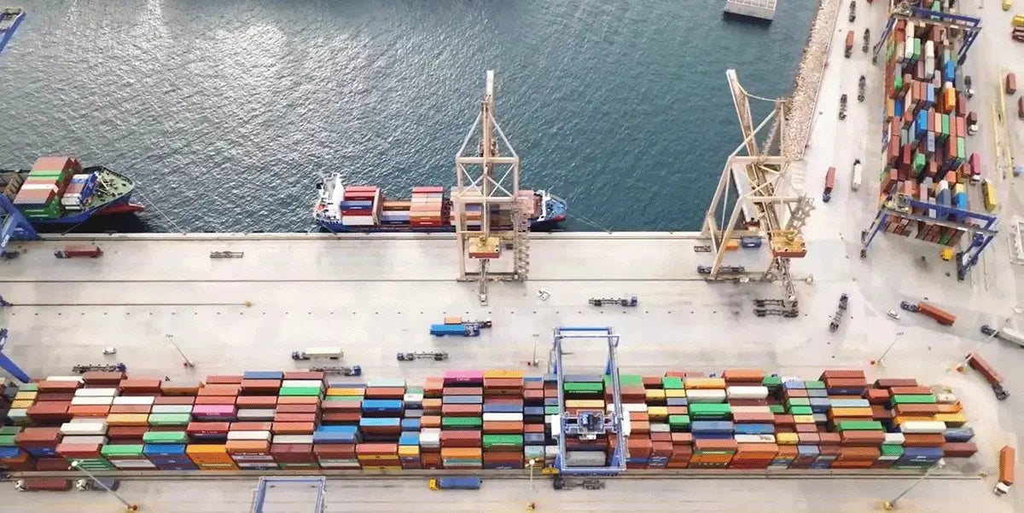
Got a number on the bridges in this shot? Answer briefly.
none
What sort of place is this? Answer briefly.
port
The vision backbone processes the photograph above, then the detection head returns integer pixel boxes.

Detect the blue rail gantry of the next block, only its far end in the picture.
[244,469,326,513]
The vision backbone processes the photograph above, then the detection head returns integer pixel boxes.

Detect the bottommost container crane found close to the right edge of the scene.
[861,204,994,287]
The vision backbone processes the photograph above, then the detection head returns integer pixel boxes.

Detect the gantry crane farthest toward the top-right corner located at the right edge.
[878,6,984,80]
